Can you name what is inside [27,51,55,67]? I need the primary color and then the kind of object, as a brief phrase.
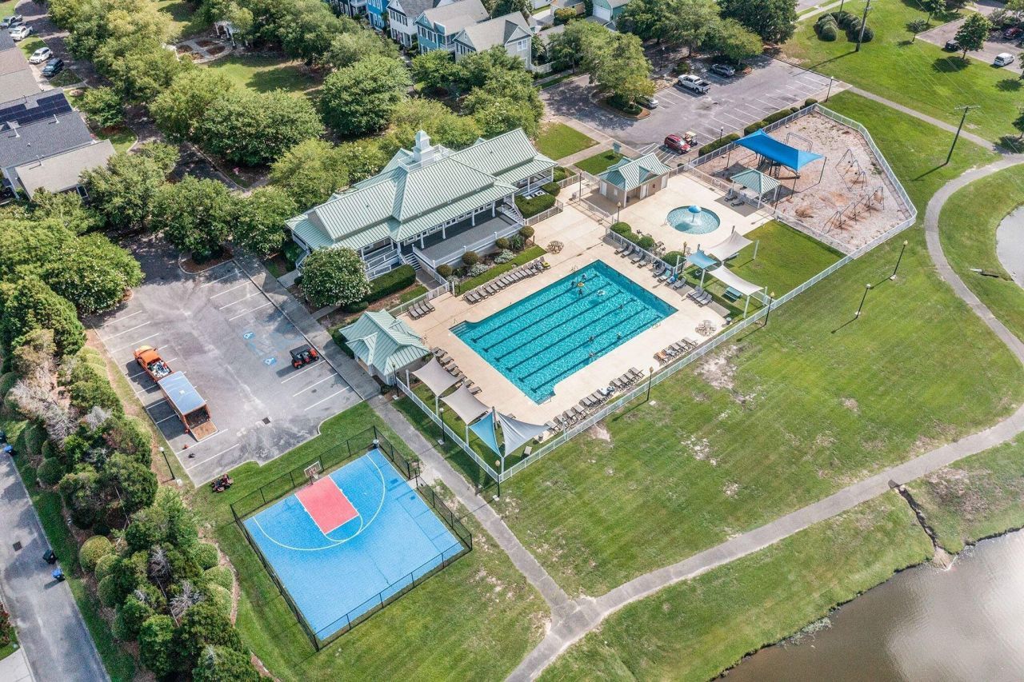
white car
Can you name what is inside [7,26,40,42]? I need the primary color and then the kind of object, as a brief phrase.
white vehicle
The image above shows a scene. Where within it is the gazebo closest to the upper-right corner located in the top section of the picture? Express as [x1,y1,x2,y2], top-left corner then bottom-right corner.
[729,168,783,208]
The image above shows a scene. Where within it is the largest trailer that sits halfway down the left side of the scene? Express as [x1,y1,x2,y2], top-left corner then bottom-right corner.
[157,371,220,443]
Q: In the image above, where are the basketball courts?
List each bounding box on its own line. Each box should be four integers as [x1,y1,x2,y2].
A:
[240,445,463,641]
